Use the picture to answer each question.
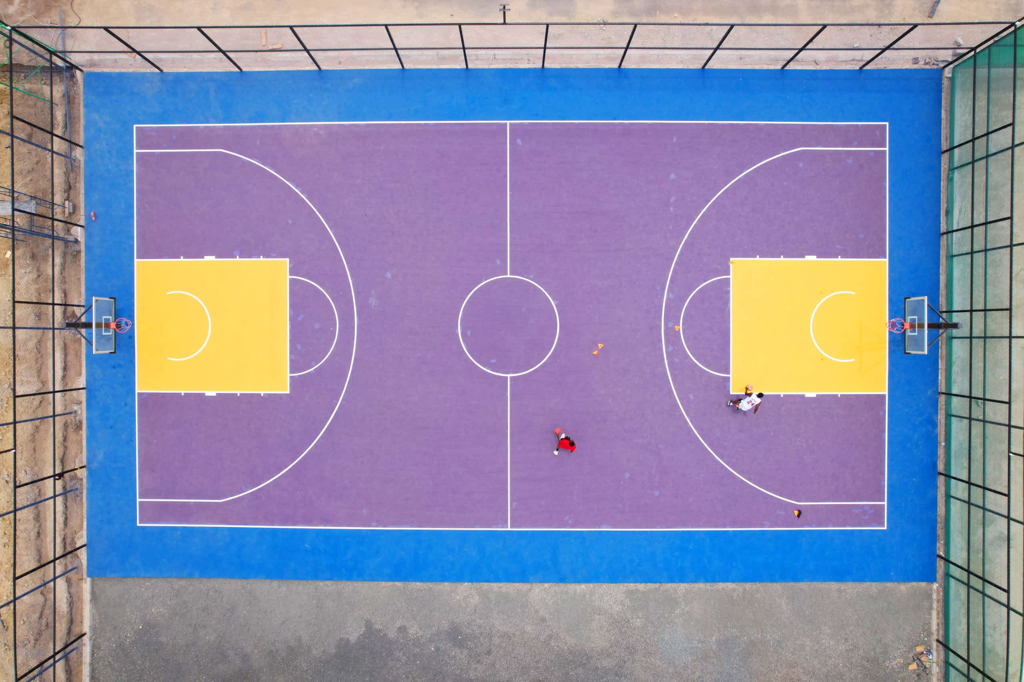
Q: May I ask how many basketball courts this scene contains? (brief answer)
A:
1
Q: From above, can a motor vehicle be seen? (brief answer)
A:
No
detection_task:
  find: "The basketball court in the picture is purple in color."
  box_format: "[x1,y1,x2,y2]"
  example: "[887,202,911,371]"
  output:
[83,67,943,583]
